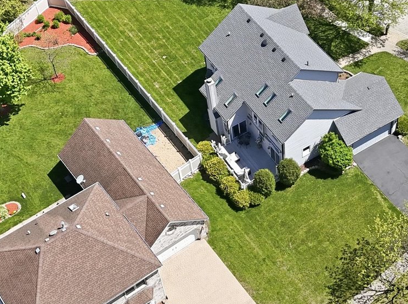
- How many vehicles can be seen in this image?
none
